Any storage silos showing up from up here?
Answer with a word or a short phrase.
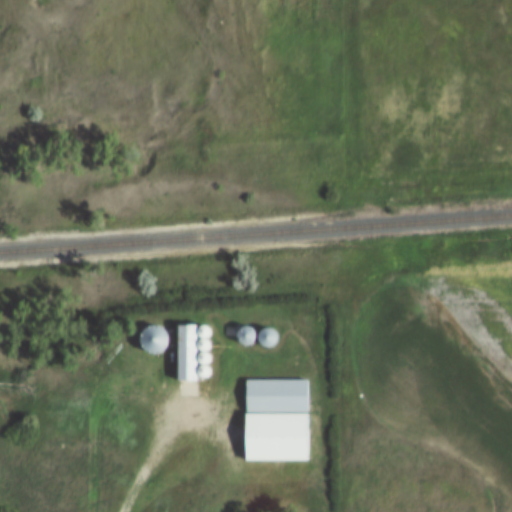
Yes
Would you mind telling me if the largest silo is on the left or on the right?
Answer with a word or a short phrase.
left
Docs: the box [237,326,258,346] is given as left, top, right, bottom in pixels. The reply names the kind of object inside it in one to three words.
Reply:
silo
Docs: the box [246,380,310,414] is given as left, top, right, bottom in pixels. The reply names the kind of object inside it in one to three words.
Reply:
barn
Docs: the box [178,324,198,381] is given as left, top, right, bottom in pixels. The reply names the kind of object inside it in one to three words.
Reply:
shed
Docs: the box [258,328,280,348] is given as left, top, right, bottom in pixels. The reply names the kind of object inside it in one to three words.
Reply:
silo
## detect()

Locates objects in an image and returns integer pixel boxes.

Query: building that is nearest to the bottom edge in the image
[246,414,310,462]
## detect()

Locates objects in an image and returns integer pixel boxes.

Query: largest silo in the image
[140,325,170,354]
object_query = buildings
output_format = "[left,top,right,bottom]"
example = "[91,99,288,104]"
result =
[178,324,198,381]
[246,414,310,462]
[246,380,310,414]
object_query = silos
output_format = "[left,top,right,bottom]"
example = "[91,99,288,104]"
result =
[258,328,280,348]
[198,338,214,352]
[140,325,170,354]
[198,352,214,366]
[198,365,214,379]
[198,324,214,338]
[237,326,258,346]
